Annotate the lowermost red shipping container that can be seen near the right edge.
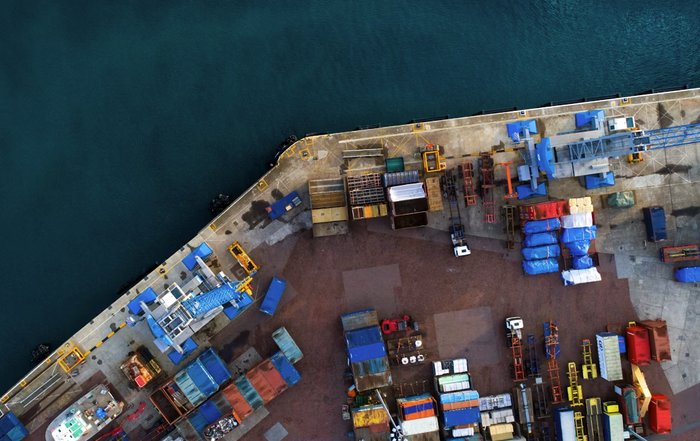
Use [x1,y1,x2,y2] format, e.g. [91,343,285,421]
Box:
[647,389,673,436]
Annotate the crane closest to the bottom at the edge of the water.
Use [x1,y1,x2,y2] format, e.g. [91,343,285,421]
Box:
[126,241,258,366]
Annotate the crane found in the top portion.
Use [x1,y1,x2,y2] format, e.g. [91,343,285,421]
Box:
[505,110,700,200]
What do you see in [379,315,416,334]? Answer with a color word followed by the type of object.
red vehicle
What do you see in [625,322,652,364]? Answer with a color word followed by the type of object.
red shipping container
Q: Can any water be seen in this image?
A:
Yes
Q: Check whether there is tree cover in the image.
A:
No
